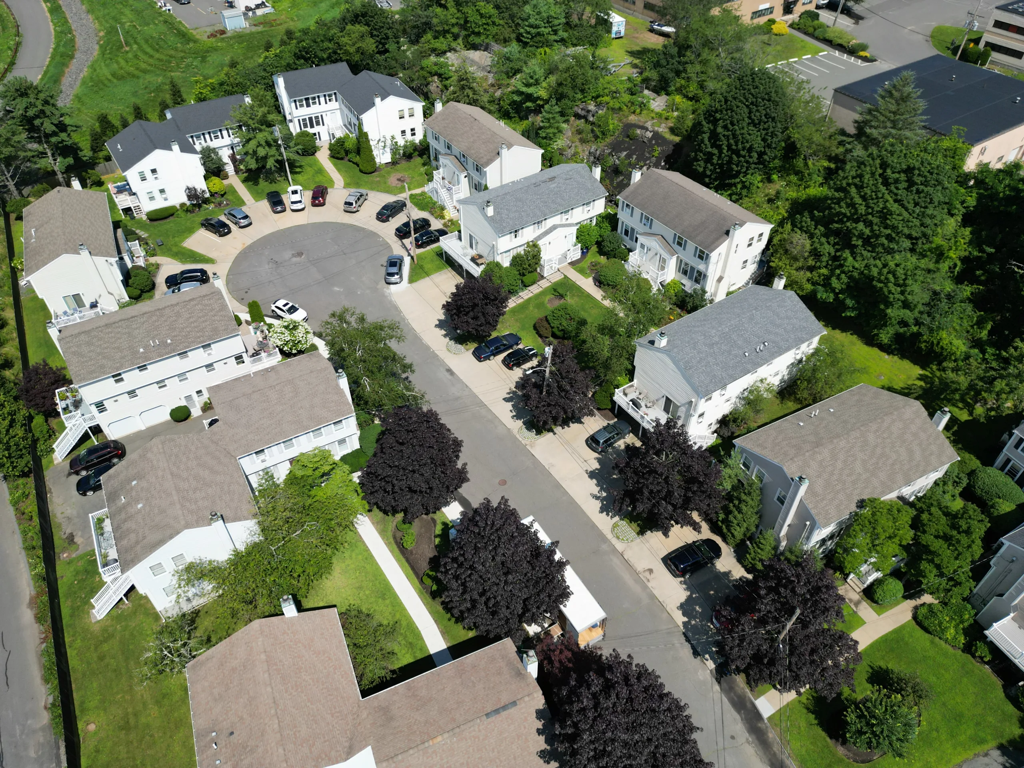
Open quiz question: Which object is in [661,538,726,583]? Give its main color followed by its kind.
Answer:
black car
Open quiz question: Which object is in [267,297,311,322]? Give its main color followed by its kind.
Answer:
white car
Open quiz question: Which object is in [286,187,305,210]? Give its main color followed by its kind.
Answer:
white car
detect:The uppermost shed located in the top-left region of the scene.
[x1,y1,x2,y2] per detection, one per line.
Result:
[224,11,246,31]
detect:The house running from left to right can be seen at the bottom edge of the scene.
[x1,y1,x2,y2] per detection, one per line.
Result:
[184,593,568,768]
